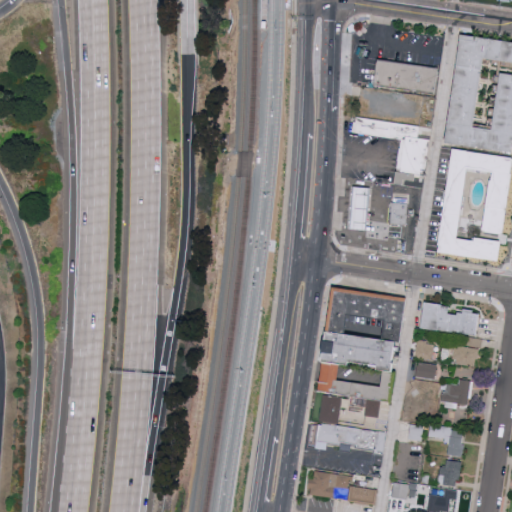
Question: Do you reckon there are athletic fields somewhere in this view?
No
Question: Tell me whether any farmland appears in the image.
No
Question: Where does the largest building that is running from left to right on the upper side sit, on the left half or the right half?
right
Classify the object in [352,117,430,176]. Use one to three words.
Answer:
building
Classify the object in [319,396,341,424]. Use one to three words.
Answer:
house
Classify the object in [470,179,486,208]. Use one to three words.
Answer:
swimming pool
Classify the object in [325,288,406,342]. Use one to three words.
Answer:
building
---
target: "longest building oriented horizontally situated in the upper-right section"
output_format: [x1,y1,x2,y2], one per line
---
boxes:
[374,60,438,97]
